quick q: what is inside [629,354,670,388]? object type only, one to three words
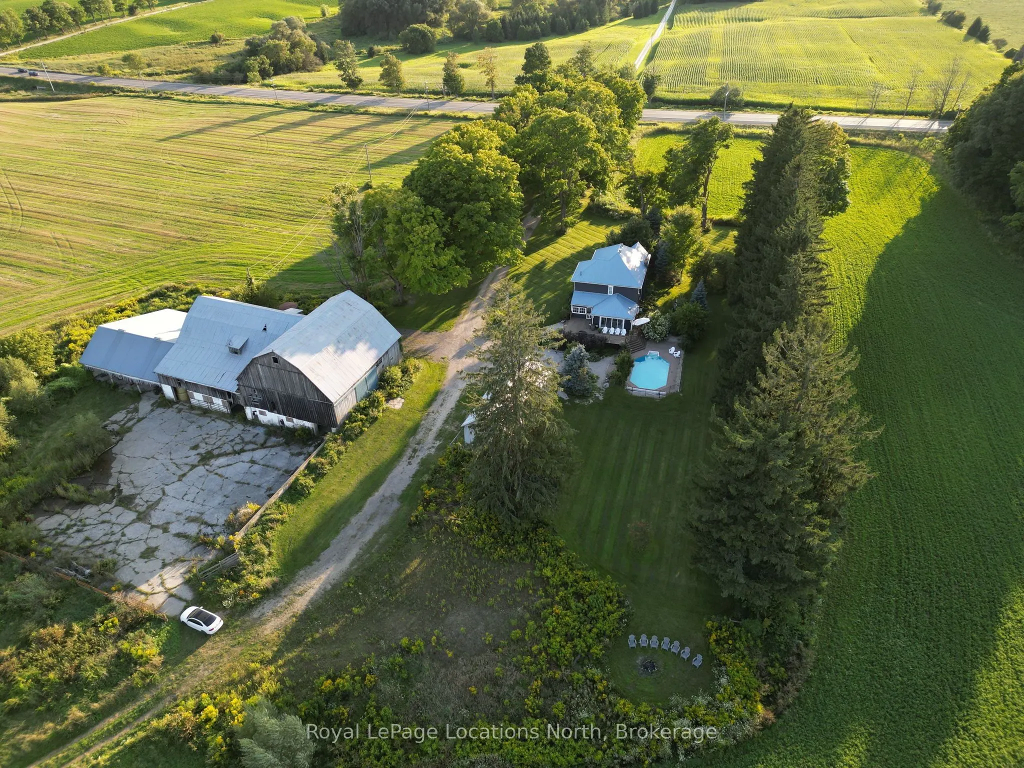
swimming pool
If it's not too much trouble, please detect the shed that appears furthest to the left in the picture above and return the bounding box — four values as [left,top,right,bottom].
[79,308,189,399]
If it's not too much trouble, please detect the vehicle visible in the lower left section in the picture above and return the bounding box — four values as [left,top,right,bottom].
[178,606,226,639]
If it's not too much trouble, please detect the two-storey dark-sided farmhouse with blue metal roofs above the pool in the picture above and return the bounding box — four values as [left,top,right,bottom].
[568,239,652,339]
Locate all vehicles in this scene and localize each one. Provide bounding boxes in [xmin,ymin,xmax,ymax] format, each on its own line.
[27,70,39,76]
[16,68,28,73]
[178,606,226,639]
